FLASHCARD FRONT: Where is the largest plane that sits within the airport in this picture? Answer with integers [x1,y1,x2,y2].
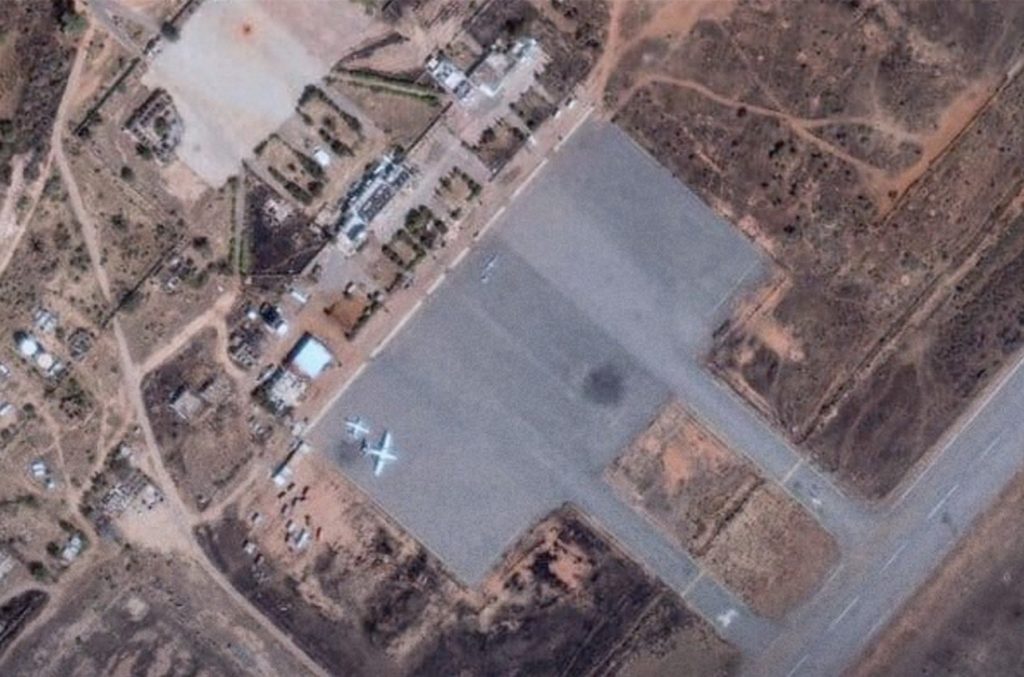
[362,432,397,475]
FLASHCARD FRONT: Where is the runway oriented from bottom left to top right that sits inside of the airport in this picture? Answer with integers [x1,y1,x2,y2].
[749,358,1024,677]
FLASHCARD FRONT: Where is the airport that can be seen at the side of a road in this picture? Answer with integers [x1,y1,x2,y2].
[303,119,1024,677]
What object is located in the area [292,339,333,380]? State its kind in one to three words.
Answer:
hangar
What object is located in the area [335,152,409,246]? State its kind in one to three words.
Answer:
building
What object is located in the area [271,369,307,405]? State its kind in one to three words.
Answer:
building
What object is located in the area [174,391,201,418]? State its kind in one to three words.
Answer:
house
